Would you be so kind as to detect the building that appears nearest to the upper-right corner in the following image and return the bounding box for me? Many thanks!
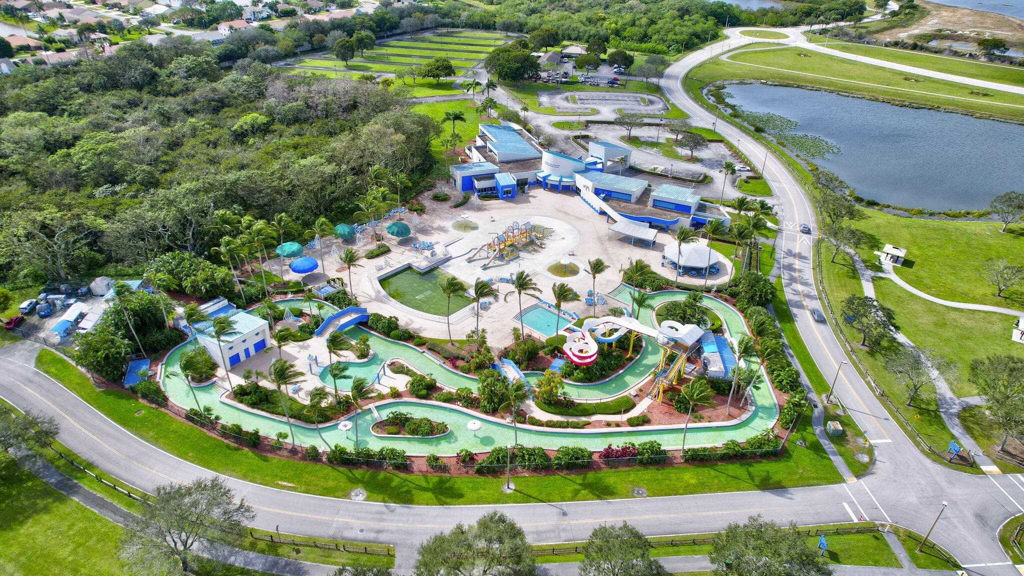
[881,243,907,266]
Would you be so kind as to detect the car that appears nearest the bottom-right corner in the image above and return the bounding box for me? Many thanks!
[810,304,828,320]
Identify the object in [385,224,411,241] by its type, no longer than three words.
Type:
umbrella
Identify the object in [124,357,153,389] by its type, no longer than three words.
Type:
shed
